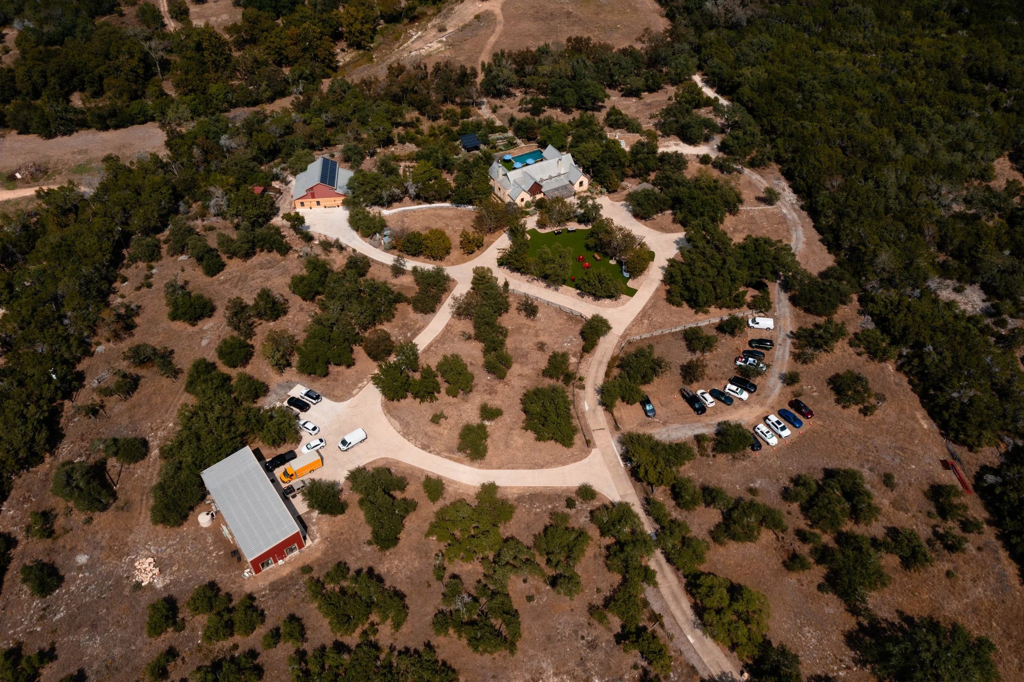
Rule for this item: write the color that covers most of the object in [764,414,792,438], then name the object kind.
white car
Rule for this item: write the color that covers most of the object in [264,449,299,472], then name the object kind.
black truck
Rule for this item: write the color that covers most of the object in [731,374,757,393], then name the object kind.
black car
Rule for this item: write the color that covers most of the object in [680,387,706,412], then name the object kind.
black truck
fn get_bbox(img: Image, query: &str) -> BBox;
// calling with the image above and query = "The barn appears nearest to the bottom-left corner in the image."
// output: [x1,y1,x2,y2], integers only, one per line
[200,447,305,576]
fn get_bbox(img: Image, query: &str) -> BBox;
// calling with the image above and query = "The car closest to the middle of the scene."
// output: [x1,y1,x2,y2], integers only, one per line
[641,396,656,416]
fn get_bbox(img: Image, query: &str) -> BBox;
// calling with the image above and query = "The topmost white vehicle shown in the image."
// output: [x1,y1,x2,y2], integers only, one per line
[747,318,776,331]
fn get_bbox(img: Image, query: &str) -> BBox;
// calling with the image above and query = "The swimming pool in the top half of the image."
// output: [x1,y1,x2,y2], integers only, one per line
[510,148,543,163]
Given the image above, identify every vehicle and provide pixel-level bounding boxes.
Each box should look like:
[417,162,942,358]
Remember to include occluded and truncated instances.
[788,397,815,418]
[680,387,706,412]
[731,374,757,393]
[709,389,734,406]
[285,396,312,412]
[723,383,749,401]
[753,423,779,445]
[764,414,792,438]
[695,389,718,408]
[747,318,776,331]
[749,338,775,350]
[298,388,323,403]
[280,476,314,499]
[297,421,322,436]
[264,449,299,472]
[338,426,370,452]
[777,408,804,428]
[742,427,764,450]
[300,437,328,455]
[281,450,323,483]
[641,396,656,416]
